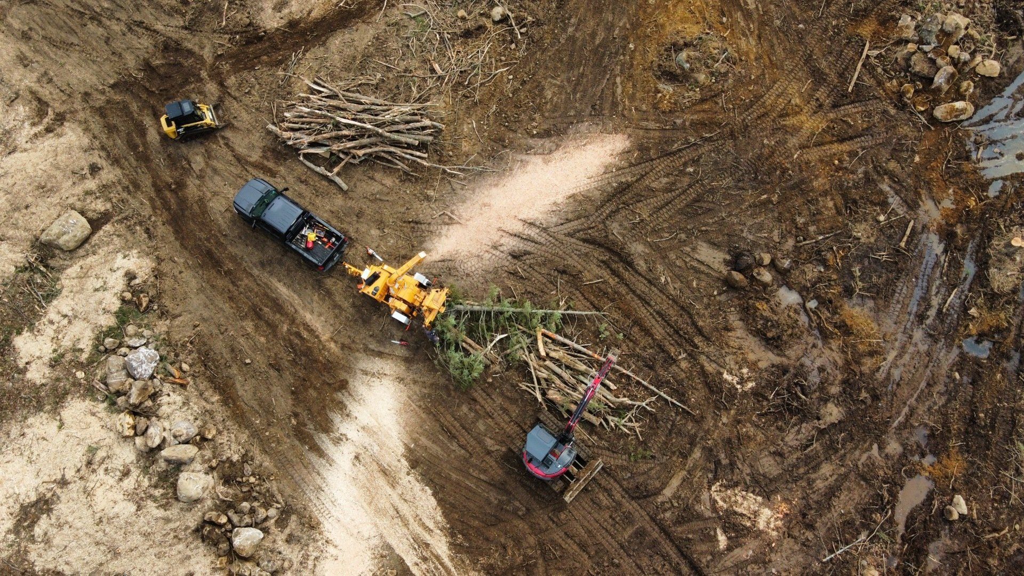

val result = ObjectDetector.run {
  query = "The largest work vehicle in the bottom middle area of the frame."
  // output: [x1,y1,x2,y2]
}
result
[512,345,623,502]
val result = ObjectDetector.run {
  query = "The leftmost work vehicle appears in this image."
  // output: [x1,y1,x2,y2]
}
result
[161,100,233,144]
